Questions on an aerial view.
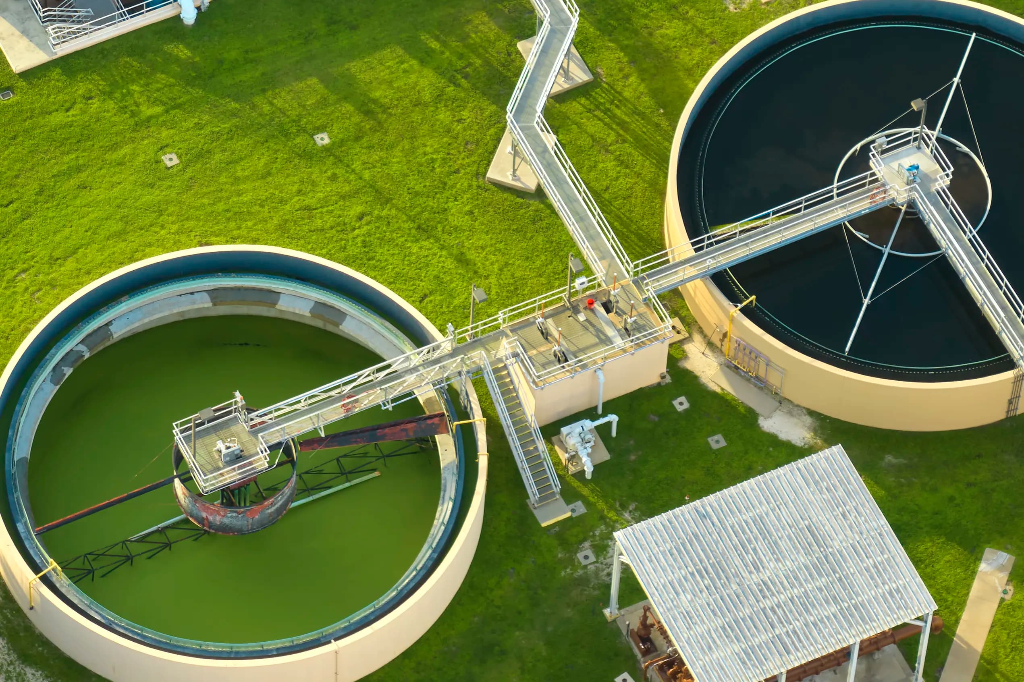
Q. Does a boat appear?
No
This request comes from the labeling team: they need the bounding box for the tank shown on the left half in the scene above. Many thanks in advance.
[0,243,487,682]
